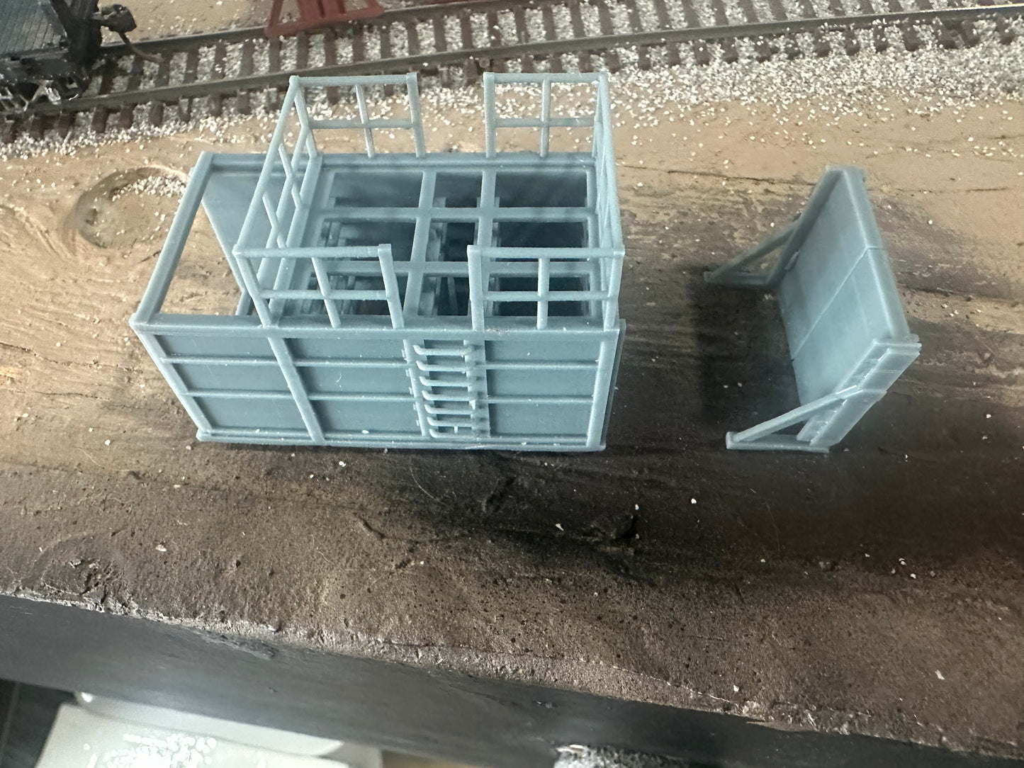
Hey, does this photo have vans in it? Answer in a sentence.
No, there's no van here.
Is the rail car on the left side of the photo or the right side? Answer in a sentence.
The rail car is on the left side of the image.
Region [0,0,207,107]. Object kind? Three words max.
rail car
